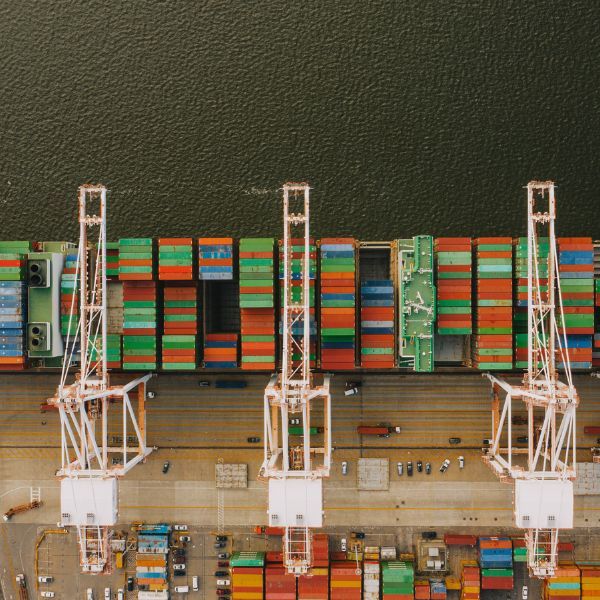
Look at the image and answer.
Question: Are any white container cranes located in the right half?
Yes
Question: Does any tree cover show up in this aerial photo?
No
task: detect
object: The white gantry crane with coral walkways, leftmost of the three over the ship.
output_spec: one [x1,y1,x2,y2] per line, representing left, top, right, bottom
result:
[49,182,162,578]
